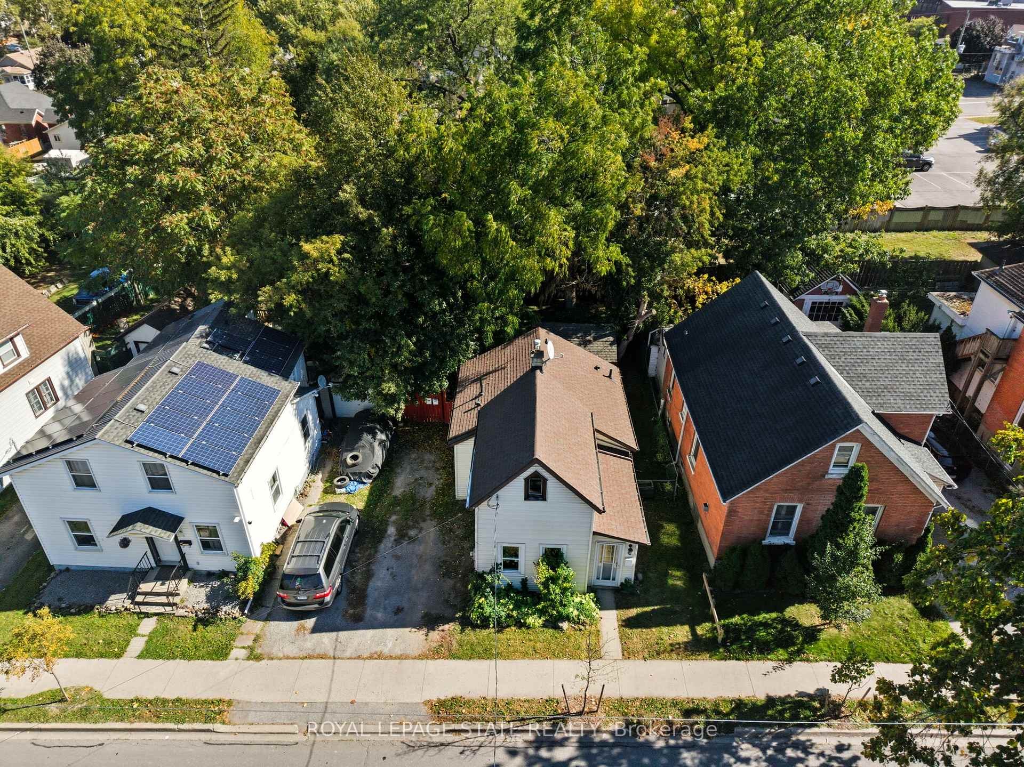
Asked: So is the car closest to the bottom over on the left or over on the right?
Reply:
left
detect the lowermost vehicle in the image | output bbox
[283,505,357,612]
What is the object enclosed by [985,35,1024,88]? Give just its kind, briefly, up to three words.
house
